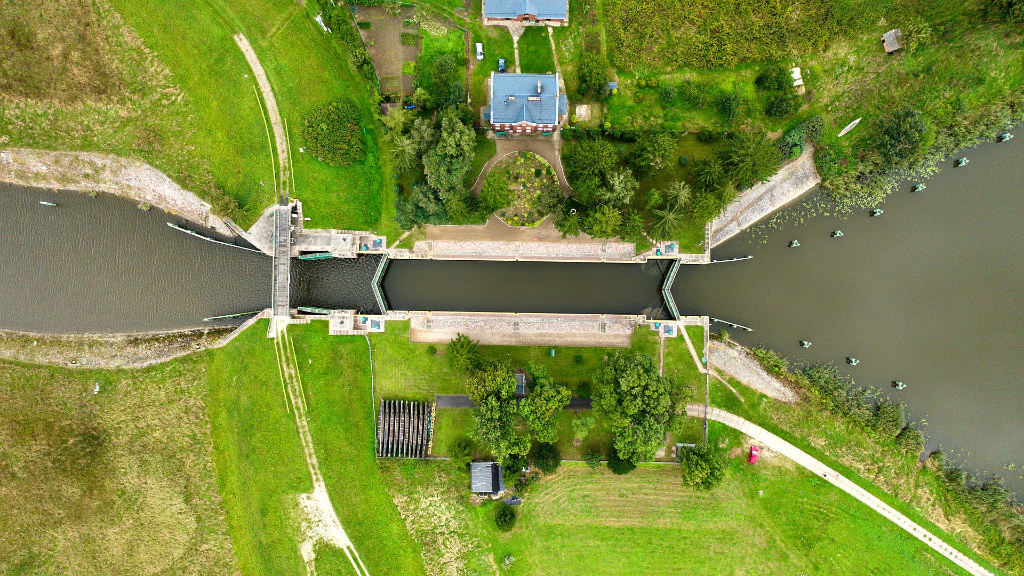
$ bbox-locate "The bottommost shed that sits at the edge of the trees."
[471,460,505,496]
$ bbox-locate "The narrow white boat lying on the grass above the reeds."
[840,117,862,135]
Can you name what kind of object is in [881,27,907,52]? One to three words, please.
shed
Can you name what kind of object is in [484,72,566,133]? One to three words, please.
house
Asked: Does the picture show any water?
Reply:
Yes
